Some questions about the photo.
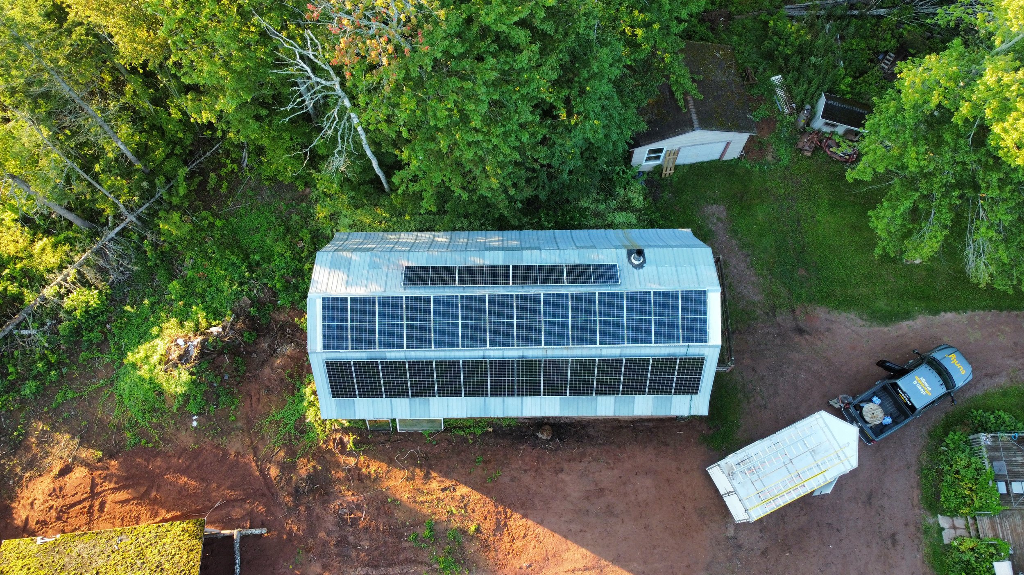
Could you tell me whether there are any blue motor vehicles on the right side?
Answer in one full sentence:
Yes, I can see a blue motor vehicle on the right side.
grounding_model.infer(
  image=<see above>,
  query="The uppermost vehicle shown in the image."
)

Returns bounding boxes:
[836,344,974,447]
